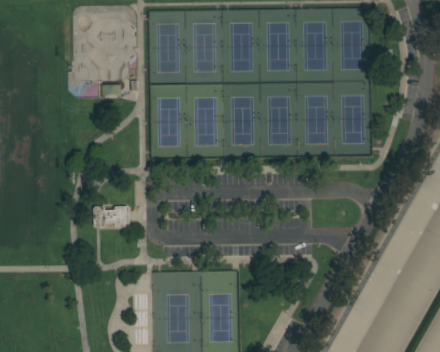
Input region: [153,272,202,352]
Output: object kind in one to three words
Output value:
tennis court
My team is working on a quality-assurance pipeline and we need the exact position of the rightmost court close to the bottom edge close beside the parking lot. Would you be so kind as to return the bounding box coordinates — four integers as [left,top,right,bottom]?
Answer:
[202,272,239,352]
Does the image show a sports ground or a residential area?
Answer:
sports ground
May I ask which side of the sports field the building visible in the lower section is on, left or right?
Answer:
on the right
